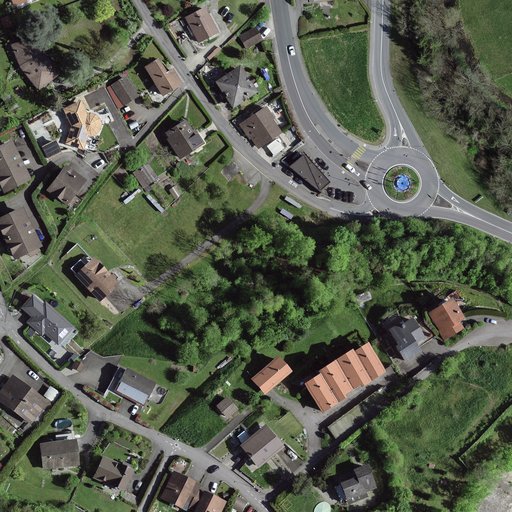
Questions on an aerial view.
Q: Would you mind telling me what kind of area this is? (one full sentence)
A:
The picture captures a residential area.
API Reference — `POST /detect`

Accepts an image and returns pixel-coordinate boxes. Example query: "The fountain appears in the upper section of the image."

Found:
[394,174,411,192]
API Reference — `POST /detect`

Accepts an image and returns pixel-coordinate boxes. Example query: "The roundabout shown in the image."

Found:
[356,138,454,220]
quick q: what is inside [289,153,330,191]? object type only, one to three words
building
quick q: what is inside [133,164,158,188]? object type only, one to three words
shed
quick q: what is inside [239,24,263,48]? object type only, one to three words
barn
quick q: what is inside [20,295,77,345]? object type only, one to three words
house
